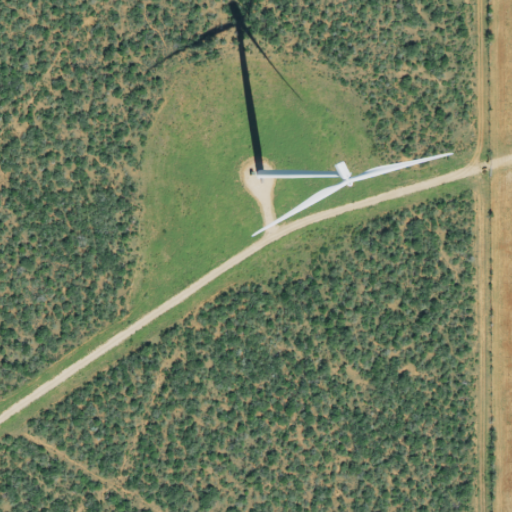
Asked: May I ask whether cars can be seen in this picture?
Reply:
No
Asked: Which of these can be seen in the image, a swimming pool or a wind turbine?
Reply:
wind turbine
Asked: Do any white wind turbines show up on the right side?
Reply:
Yes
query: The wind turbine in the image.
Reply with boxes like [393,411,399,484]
[252,153,454,236]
